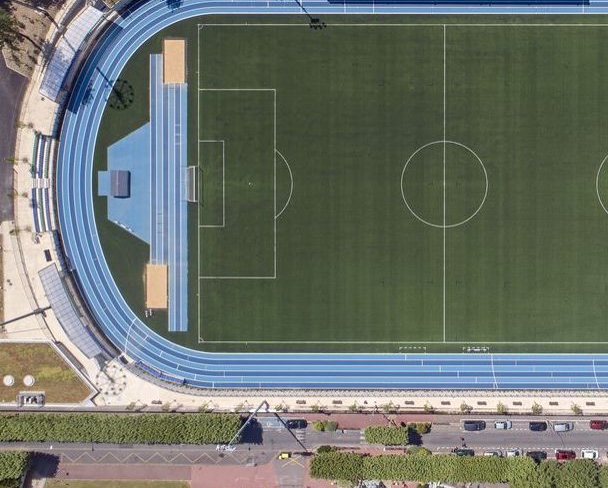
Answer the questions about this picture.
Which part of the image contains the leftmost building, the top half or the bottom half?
bottom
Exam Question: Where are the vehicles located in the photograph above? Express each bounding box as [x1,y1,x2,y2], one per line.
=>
[527,421,548,431]
[482,448,502,458]
[286,419,308,429]
[553,448,576,460]
[504,448,525,460]
[588,420,608,431]
[552,421,574,432]
[463,420,486,430]
[525,449,548,461]
[279,451,290,460]
[454,447,475,457]
[493,420,513,431]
